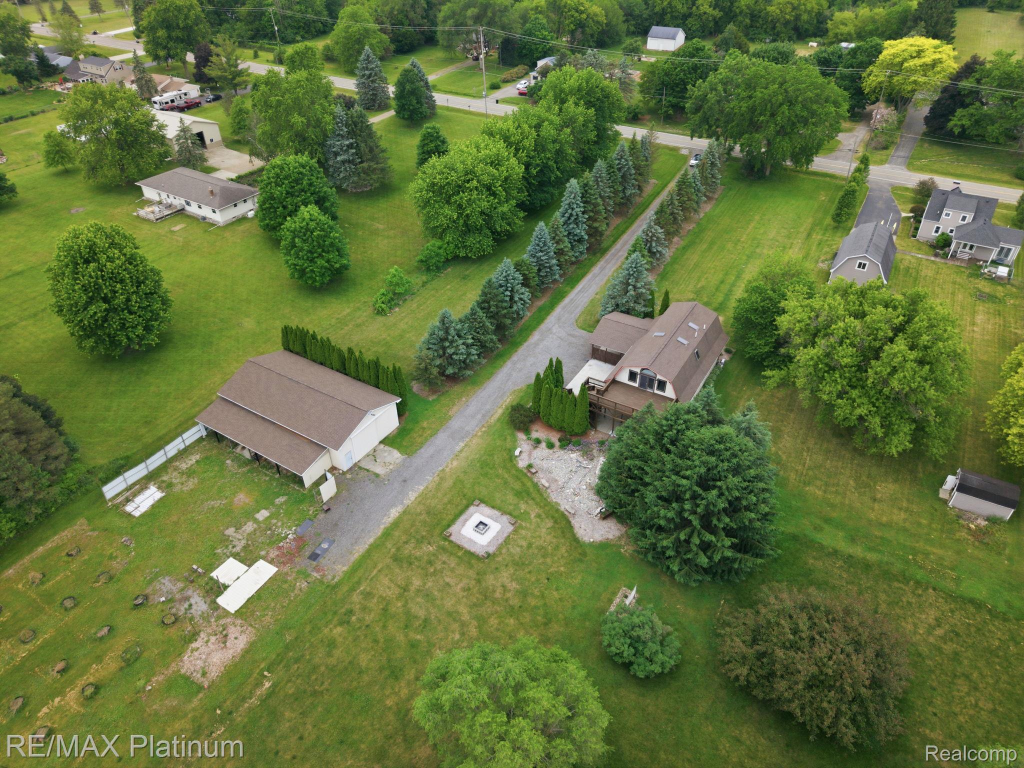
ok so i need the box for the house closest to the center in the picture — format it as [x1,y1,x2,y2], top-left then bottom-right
[564,301,727,427]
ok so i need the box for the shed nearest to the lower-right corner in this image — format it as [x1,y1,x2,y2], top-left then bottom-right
[950,467,1022,523]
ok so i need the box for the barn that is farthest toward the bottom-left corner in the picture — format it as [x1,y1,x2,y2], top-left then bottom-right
[188,353,400,488]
